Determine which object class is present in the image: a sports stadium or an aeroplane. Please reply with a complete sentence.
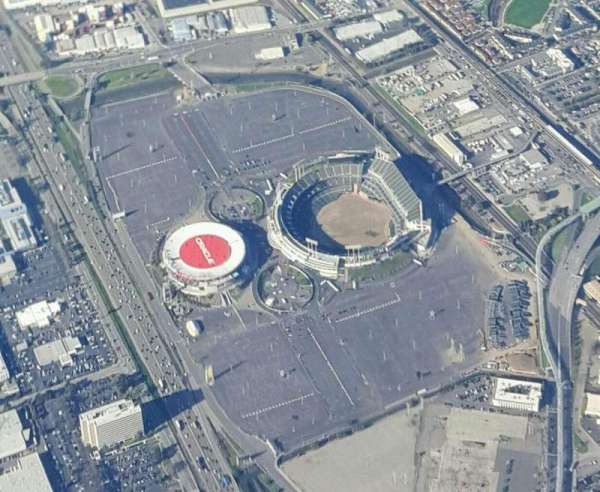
The image shows a sports stadium.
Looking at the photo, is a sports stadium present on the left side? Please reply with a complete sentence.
Yes, the scene does show a sports stadium on the left side.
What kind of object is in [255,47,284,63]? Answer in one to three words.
shed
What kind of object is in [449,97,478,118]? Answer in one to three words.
building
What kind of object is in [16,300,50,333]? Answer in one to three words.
building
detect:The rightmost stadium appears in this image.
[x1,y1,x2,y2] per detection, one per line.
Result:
[265,145,432,279]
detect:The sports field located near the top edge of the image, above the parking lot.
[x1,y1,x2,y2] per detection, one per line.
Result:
[504,0,549,29]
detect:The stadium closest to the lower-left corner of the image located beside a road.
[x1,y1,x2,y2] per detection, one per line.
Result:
[155,221,250,307]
